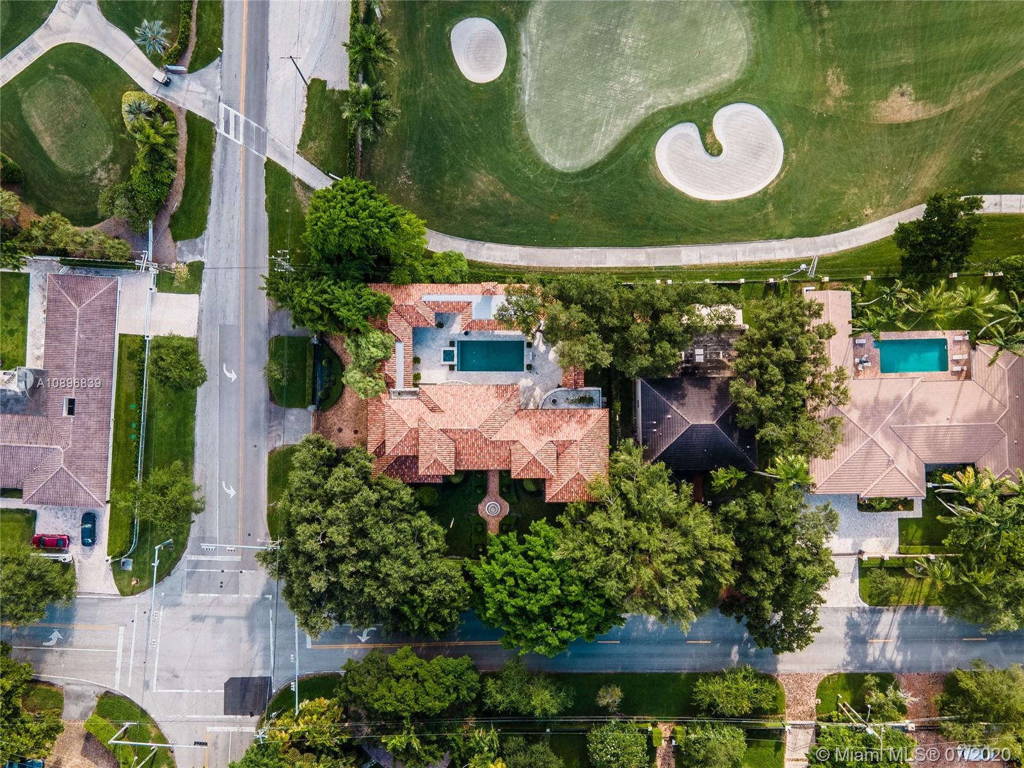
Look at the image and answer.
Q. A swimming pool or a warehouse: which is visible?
swimming pool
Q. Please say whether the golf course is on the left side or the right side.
right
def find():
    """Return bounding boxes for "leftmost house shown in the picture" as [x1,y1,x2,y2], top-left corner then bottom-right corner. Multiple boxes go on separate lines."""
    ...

[0,274,125,507]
